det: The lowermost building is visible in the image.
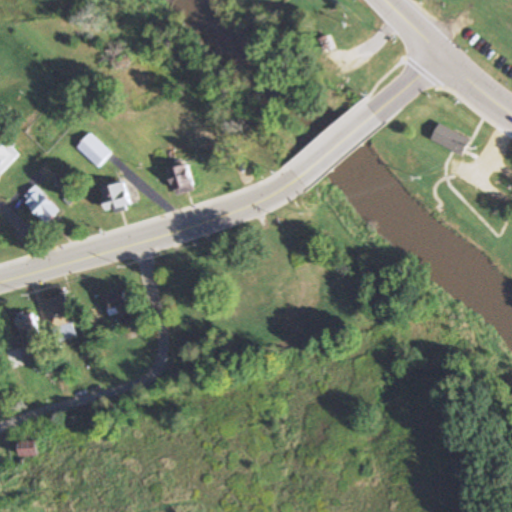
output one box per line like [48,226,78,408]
[16,439,39,454]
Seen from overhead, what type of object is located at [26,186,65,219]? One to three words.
house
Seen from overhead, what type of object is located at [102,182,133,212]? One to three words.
house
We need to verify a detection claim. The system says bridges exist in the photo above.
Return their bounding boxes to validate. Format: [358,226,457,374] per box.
[284,98,384,195]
